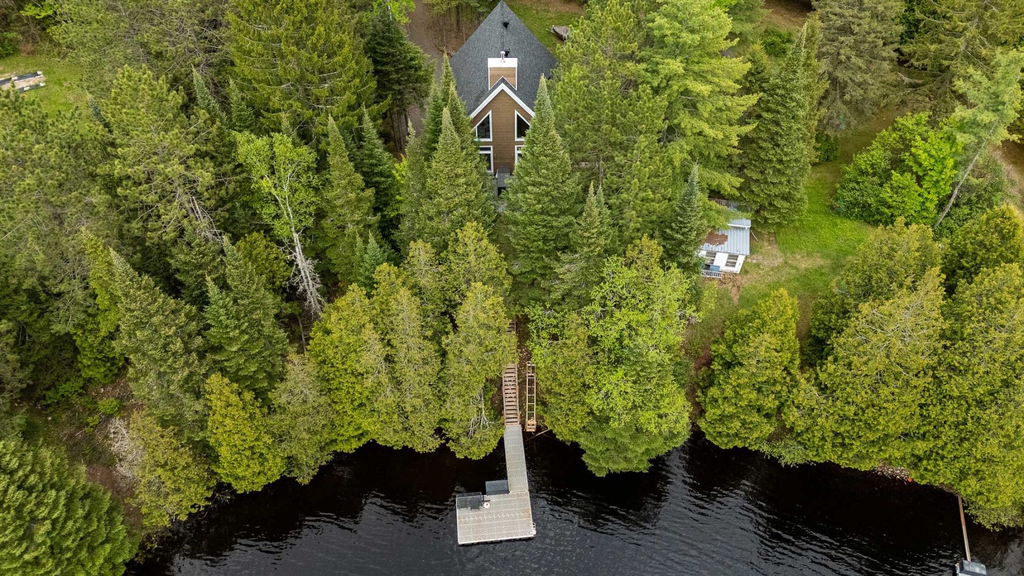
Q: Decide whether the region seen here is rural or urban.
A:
rural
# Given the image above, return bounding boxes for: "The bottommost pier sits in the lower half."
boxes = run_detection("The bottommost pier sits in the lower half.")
[455,491,537,545]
